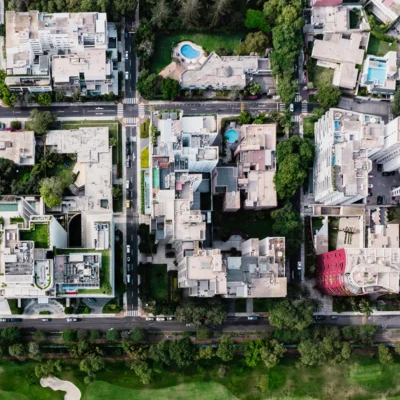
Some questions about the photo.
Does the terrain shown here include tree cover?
Yes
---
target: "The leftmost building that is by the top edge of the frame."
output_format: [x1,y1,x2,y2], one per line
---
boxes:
[6,9,53,94]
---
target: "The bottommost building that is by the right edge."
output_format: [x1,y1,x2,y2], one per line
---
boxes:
[323,248,400,296]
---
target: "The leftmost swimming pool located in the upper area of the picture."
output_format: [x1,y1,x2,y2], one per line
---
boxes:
[180,42,202,59]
